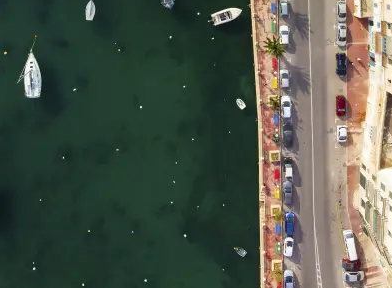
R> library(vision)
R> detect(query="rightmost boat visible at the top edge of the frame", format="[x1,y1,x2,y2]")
[209,9,242,28]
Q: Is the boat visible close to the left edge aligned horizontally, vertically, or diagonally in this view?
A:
vertically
